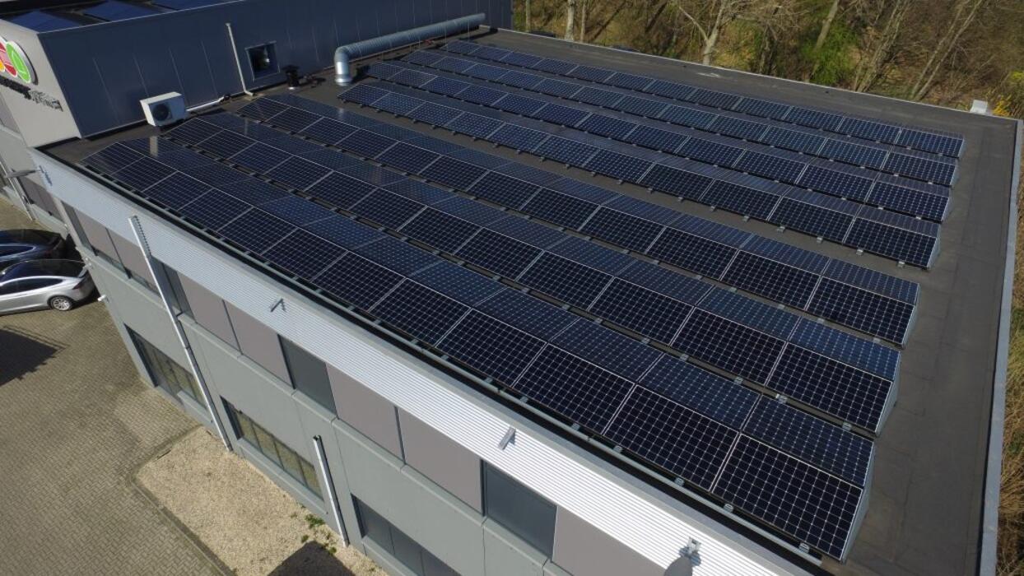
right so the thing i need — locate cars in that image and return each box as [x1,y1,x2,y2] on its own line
[0,259,95,315]
[0,227,71,266]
